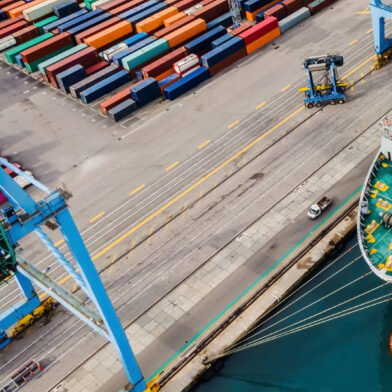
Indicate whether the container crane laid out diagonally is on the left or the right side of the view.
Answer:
left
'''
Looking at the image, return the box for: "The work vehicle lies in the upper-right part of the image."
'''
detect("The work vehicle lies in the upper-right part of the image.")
[297,45,348,105]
